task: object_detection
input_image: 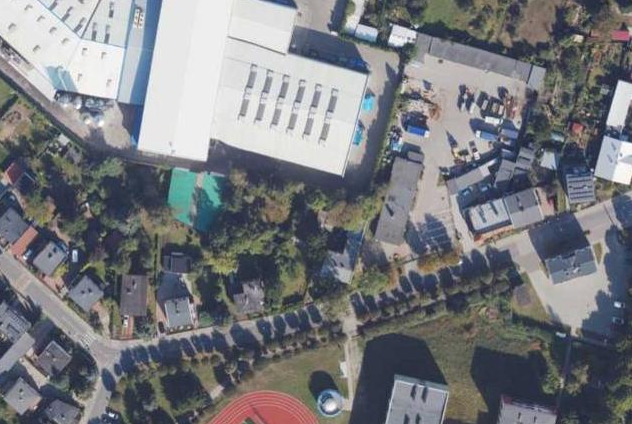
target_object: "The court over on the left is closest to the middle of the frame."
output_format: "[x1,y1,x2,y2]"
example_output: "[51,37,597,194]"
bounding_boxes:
[195,173,225,230]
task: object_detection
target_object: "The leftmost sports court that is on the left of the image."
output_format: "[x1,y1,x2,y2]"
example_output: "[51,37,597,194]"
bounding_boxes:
[167,169,195,226]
